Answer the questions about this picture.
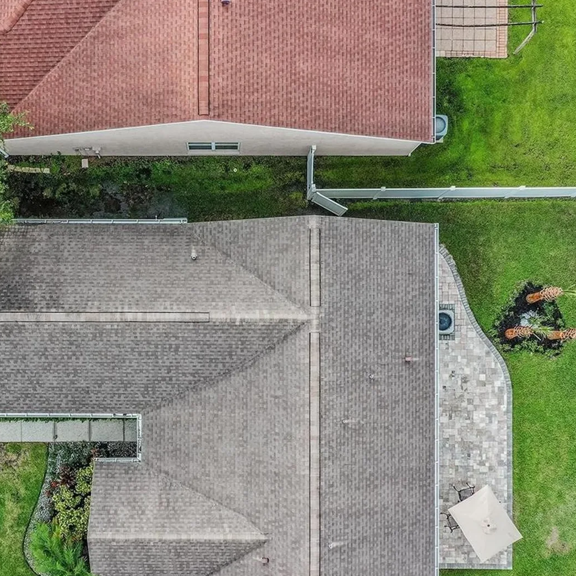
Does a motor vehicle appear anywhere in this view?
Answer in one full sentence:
No, the photo shows no motor vehicle.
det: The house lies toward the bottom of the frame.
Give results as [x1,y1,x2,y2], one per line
[0,213,440,576]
